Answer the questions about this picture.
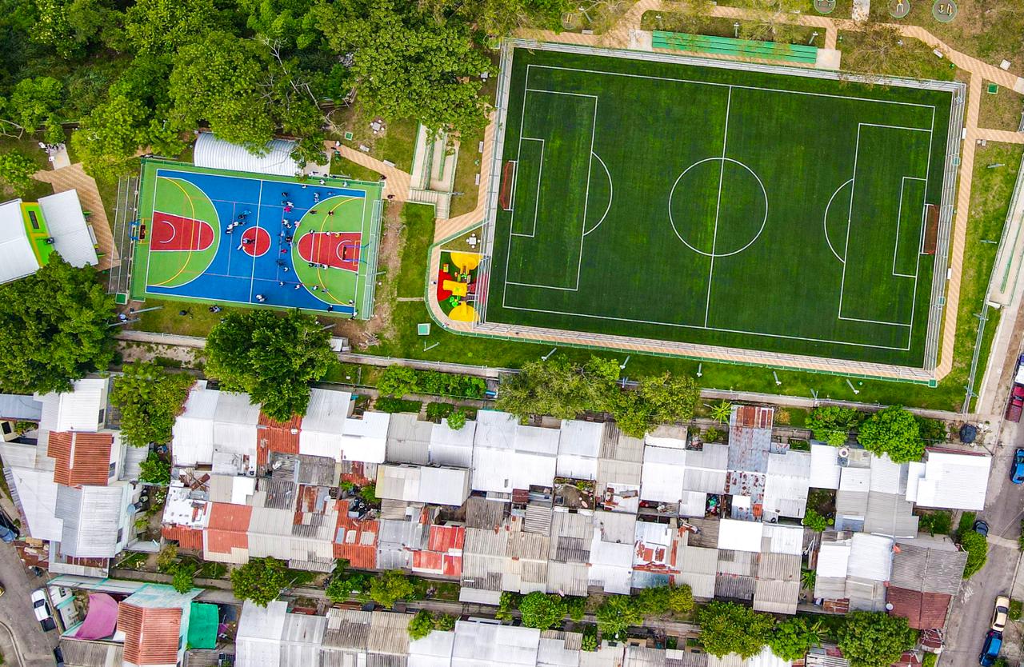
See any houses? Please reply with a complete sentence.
Yes, the image includes a house.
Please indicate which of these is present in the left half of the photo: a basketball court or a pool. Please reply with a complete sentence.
Looking in the left half of the photo, you will find a basketball court.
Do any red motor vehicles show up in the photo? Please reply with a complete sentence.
Yes, looking at the shot, I can spot a red motor vehicle.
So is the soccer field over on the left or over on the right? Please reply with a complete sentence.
You can find the soccer field on the right side of the picture.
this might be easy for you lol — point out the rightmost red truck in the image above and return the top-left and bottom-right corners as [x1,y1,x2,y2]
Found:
[1003,382,1024,425]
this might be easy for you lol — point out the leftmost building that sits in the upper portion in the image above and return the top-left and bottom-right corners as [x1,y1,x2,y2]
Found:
[0,189,98,280]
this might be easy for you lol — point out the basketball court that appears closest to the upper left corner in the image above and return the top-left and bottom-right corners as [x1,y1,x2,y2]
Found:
[129,159,383,320]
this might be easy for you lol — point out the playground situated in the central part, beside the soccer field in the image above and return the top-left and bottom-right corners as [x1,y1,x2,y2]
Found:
[437,251,483,322]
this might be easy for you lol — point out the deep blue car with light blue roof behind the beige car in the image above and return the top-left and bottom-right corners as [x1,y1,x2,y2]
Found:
[980,628,1004,667]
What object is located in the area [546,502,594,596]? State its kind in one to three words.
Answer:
house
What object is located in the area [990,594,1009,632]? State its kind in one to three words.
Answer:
car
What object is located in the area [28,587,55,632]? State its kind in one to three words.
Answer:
truck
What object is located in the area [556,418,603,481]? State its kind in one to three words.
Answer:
house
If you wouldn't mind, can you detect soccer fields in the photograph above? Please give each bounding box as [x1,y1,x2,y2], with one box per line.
[477,42,959,369]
